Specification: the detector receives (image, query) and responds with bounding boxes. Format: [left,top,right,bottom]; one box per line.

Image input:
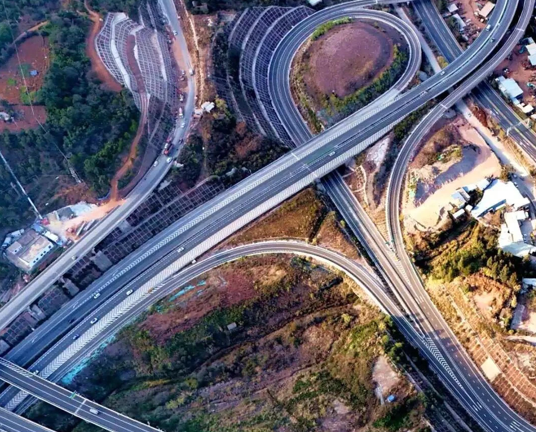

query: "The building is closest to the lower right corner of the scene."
[502,243,536,263]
